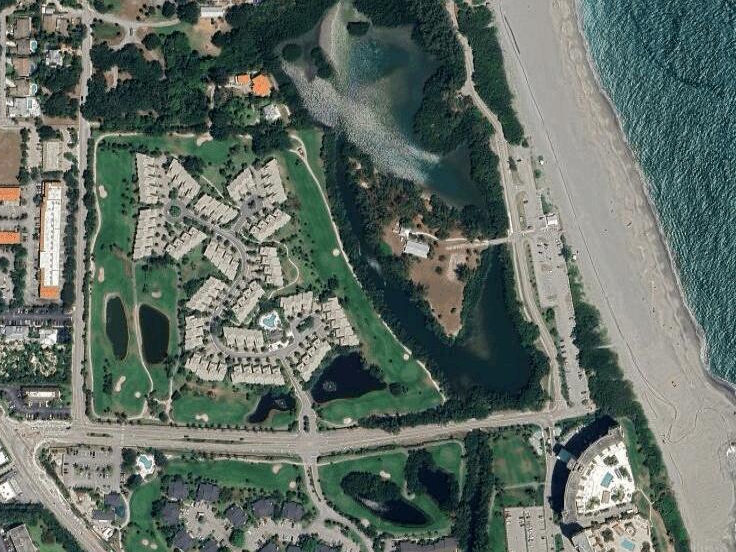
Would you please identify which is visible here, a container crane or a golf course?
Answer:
golf course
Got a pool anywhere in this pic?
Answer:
Yes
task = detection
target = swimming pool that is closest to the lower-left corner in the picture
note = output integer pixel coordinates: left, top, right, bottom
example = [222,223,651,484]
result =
[138,454,155,478]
